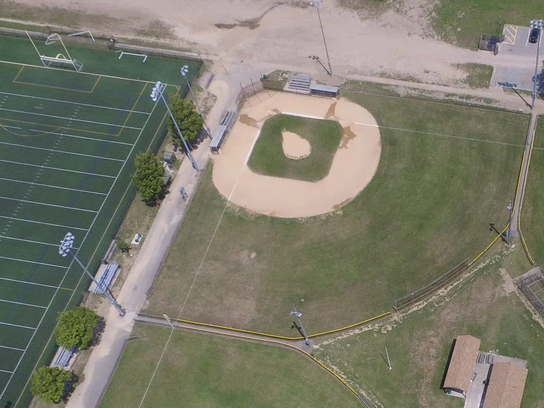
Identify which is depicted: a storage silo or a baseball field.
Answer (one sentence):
It is a baseball field that can be seen here.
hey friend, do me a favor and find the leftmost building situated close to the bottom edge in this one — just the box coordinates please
[443,336,480,398]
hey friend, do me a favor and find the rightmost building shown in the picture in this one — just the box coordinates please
[483,362,526,408]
